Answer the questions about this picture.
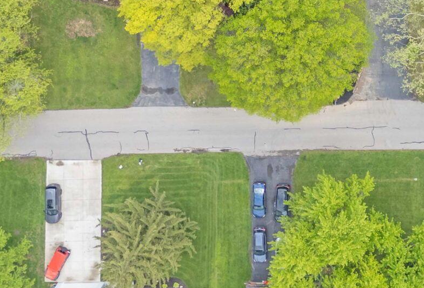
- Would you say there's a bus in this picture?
No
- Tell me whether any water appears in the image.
No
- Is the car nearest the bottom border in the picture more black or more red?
red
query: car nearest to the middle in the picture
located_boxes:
[249,183,267,220]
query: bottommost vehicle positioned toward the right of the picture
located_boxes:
[250,228,268,265]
